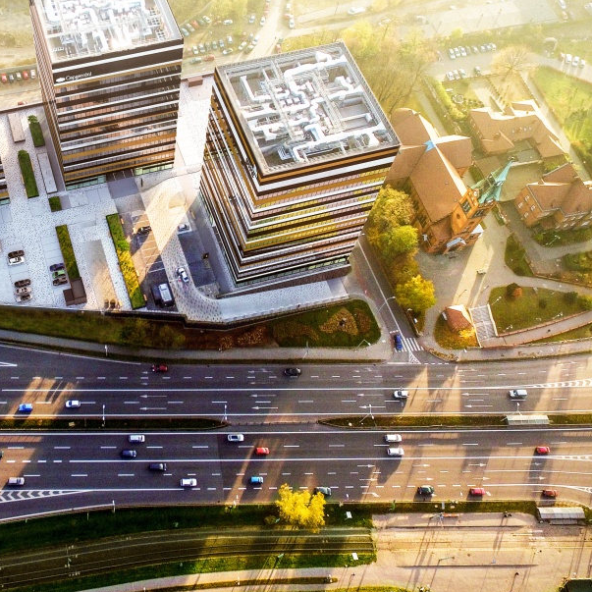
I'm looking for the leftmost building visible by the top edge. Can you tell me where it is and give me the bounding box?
[30,0,183,189]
